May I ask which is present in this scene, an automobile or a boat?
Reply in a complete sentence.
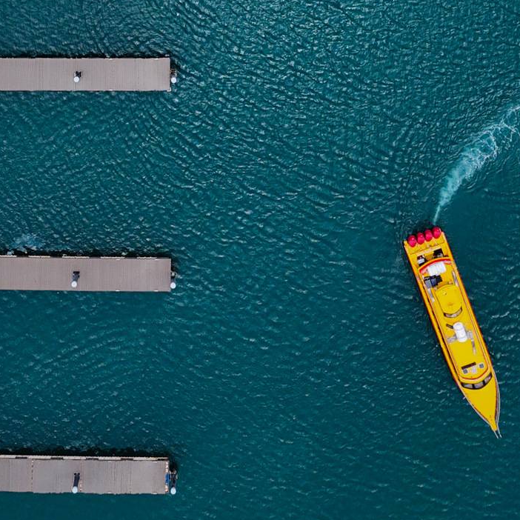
Looking from above, you can make out a boat.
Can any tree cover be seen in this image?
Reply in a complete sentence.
No, the scene doesn't show any tree cover.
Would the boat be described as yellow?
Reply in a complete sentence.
Yes, the boat is yellow.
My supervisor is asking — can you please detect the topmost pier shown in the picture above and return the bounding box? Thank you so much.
[0,52,172,91]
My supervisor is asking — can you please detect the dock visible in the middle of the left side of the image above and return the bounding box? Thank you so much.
[0,250,172,291]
